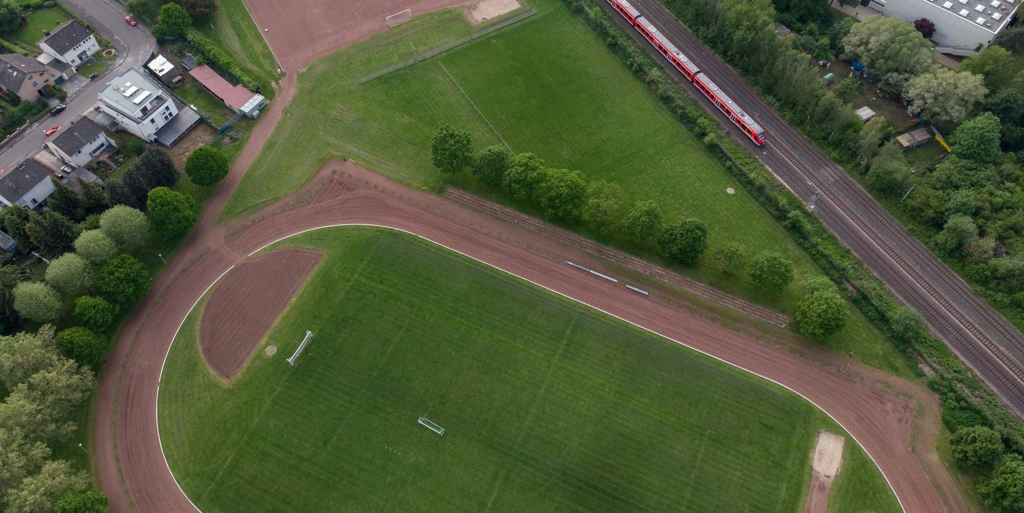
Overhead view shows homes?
Yes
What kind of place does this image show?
sports ground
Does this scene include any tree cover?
Yes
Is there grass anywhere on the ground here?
Yes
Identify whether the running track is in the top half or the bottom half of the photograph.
bottom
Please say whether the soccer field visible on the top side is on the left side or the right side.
left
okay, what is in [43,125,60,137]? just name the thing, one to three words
vehicle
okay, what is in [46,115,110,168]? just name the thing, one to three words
house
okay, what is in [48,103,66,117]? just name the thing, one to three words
car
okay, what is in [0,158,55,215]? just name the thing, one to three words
house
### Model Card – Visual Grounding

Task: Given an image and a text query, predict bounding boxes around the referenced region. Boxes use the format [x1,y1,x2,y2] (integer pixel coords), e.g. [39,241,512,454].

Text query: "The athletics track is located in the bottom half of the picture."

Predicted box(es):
[115,176,948,513]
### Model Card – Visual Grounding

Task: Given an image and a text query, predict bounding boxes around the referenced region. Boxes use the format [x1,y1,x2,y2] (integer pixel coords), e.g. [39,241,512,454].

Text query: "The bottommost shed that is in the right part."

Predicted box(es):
[893,127,931,152]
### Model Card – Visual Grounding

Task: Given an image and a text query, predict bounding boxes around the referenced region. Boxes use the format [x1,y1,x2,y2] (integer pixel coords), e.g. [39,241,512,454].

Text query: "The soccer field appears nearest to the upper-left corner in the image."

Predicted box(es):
[242,0,473,72]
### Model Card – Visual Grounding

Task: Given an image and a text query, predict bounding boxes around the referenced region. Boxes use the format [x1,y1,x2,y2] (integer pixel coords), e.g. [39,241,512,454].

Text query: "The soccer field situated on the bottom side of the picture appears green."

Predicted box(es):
[157,224,904,513]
